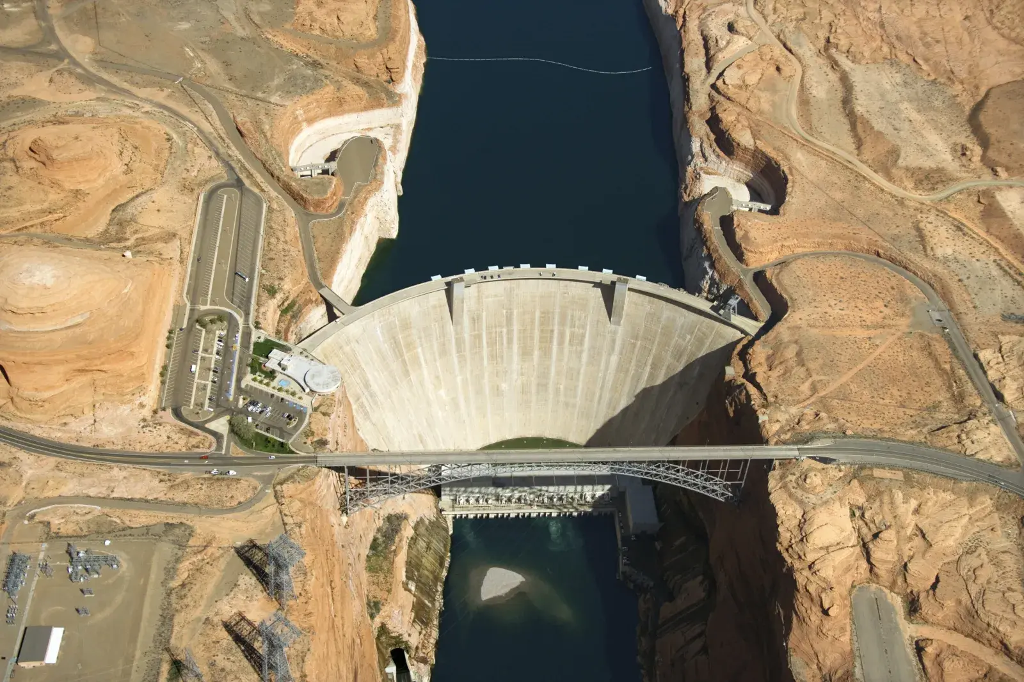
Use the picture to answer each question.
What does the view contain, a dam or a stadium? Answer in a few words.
dam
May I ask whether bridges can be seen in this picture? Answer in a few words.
Yes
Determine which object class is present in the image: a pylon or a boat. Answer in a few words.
pylon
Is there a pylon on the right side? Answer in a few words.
No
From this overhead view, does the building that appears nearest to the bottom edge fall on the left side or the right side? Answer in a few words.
left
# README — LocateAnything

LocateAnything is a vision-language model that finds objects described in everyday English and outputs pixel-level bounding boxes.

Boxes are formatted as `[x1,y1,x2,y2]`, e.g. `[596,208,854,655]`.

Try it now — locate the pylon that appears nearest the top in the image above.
[259,531,303,616]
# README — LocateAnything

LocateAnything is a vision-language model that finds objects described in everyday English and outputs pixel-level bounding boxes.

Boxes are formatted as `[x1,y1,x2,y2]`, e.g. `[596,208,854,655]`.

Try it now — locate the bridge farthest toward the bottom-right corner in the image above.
[313,445,802,517]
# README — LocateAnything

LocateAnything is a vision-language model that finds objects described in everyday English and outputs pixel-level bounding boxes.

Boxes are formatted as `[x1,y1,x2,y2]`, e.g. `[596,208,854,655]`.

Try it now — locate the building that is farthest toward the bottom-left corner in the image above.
[17,626,65,669]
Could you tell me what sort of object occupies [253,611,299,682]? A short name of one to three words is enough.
pylon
